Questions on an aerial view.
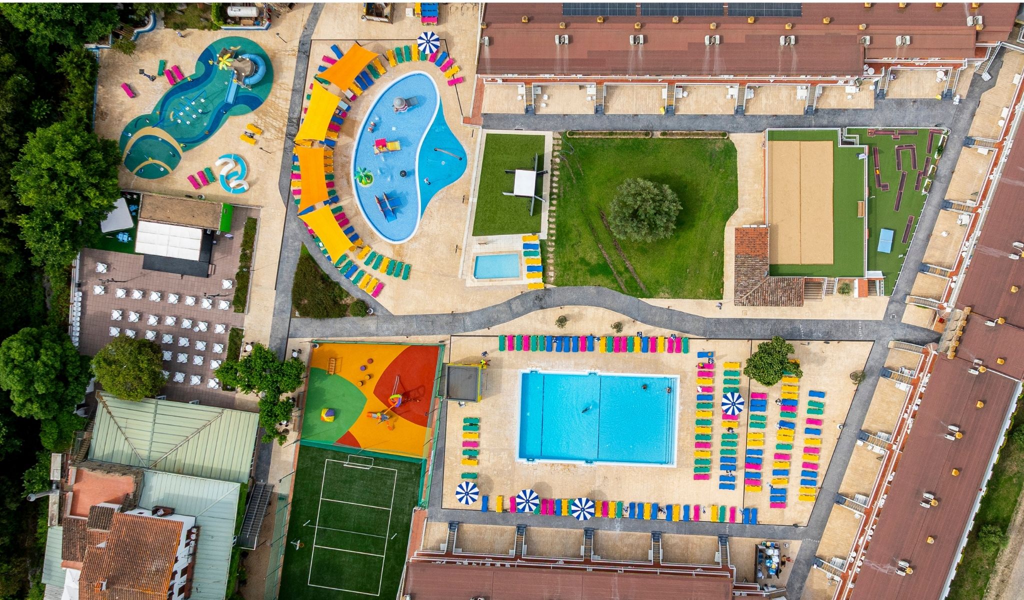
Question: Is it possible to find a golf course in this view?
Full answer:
Yes, the photo shows a golf course.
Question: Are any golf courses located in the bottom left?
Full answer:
No, no golf course appears in the bottom left.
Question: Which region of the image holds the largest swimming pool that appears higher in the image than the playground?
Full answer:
The largest swimming pool that appears higher in the image than the playground is in the top part of the image.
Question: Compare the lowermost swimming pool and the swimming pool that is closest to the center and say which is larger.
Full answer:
Compared with the swimming pool that is closest to the center, the lowermost swimming pool is the bigger one.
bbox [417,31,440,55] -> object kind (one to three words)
umbrella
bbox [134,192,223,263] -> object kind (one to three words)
building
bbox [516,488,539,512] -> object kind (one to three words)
umbrella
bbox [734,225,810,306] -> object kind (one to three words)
building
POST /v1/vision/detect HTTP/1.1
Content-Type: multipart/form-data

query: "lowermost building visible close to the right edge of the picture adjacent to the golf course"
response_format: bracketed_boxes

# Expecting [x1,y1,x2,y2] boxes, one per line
[814,339,1024,600]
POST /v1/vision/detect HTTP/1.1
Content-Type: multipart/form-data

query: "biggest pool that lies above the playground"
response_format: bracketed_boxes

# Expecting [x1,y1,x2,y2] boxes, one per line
[351,70,468,244]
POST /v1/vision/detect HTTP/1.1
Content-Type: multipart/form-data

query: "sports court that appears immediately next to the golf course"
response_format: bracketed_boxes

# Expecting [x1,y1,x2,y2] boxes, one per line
[763,129,867,278]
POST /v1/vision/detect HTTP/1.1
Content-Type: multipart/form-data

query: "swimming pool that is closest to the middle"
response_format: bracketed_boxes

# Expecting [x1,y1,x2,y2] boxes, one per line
[472,251,523,282]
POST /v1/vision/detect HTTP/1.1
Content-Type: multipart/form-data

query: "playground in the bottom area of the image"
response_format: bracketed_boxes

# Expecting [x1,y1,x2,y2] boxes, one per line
[298,342,443,459]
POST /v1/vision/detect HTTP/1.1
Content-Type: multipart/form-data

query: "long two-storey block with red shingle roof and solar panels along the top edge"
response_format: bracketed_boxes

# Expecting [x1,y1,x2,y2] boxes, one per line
[462,0,1021,278]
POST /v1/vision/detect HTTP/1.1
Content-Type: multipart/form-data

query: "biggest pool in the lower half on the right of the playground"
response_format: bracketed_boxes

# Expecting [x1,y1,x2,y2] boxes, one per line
[515,367,680,468]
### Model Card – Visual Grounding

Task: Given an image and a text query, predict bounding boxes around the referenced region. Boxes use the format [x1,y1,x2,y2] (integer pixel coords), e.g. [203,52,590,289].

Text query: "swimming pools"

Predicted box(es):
[515,367,680,468]
[351,70,468,244]
[472,251,523,282]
